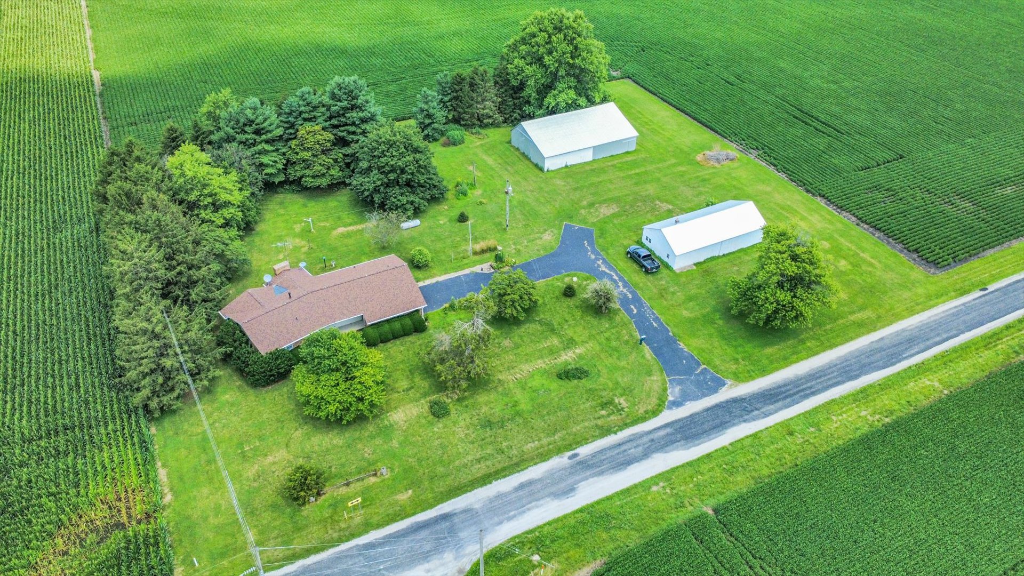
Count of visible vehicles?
one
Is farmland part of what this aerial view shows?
Yes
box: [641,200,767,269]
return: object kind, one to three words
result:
shed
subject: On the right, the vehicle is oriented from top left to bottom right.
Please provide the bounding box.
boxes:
[627,244,663,272]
